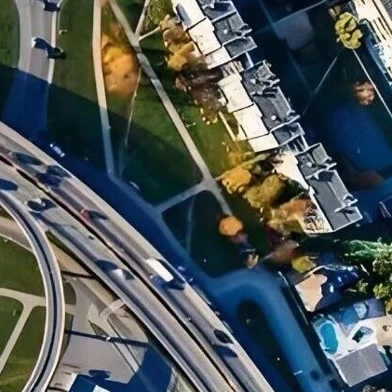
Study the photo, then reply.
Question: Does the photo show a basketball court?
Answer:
No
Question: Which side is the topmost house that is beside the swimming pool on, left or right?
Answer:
right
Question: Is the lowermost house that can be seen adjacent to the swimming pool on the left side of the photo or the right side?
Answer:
right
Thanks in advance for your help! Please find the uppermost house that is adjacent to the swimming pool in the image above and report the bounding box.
[291,268,351,316]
